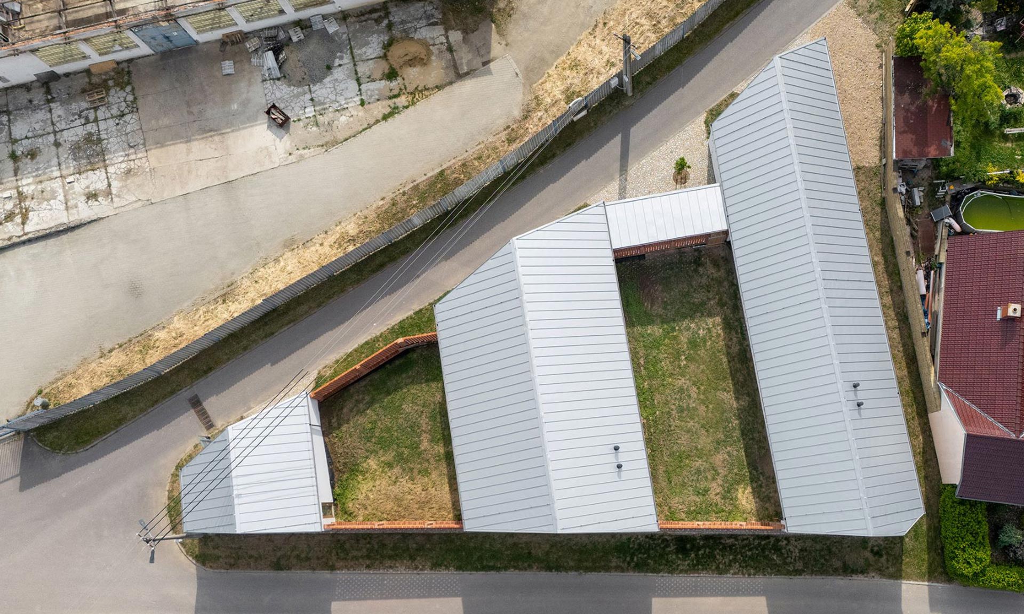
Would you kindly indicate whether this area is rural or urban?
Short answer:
urban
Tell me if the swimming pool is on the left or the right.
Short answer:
right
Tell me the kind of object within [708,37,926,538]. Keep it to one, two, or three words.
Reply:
house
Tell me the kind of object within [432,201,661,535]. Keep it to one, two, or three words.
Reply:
house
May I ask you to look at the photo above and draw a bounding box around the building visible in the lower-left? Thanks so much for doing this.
[178,391,333,535]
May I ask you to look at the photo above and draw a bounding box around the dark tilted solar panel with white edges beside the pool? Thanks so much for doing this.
[926,205,952,225]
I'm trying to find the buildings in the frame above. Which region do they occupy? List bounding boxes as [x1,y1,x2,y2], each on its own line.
[432,201,661,535]
[889,56,955,169]
[708,37,926,538]
[929,227,1024,507]
[178,391,333,535]
[0,0,389,88]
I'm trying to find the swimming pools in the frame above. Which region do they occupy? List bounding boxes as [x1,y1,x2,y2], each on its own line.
[955,190,1024,230]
